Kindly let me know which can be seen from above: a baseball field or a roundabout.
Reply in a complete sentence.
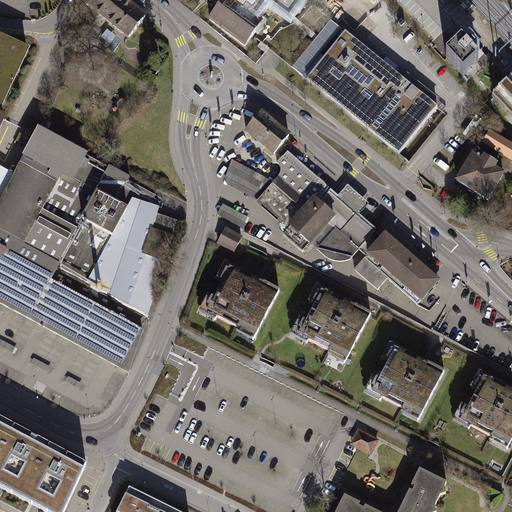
The one in the frame is a roundabout.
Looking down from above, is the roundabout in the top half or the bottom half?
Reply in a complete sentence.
The top half of the photo is where the roundabout is.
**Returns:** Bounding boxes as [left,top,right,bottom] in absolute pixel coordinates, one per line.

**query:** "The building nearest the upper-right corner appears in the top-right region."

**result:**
[445,28,486,76]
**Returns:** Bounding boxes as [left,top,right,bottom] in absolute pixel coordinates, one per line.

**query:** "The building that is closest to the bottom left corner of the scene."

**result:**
[0,415,87,512]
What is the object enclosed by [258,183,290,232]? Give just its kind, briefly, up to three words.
building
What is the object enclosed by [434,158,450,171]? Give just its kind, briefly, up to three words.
vehicle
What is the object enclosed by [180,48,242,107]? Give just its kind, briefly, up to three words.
roundabout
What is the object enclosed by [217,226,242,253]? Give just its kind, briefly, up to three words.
house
